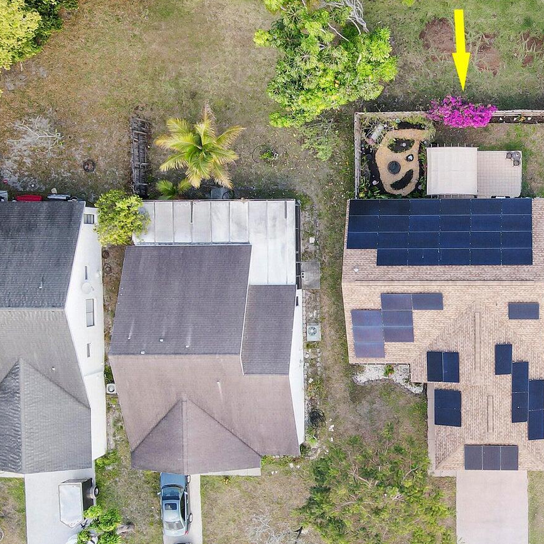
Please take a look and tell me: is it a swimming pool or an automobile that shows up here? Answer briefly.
automobile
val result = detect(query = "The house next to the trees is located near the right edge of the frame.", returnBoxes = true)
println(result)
[342,197,544,472]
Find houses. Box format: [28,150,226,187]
[0,201,104,475]
[109,198,309,475]
[342,197,544,472]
